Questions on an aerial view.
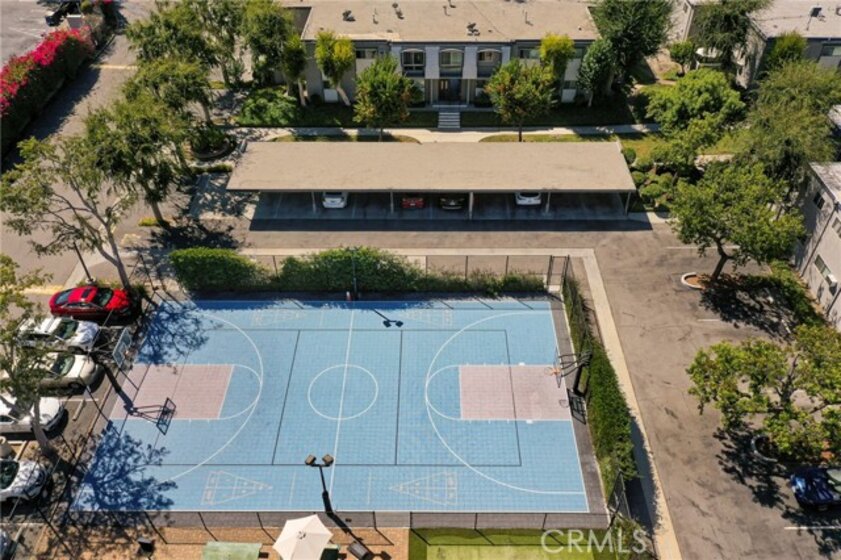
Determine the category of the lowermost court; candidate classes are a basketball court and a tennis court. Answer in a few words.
basketball court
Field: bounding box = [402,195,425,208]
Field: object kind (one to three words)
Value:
vehicle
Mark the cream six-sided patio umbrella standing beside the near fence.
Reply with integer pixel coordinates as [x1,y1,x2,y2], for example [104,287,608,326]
[273,511,334,560]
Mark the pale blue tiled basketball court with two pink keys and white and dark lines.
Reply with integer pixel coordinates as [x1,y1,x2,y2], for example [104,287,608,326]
[70,301,590,512]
